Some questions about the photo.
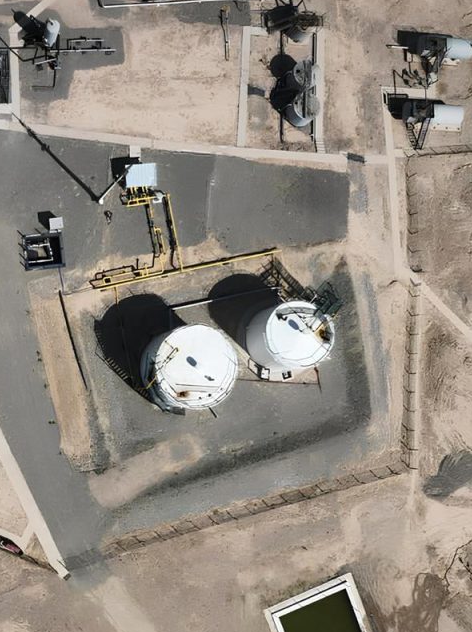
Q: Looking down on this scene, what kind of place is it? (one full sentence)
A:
This image shows an industrial area.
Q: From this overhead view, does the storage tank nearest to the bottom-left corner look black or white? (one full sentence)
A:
The storage tank nearest to the bottom-left corner looks white in the image.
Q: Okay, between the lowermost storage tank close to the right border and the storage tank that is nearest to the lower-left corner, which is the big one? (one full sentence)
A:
Of the two, the storage tank that is nearest to the lower-left corner is larger and the lowermost storage tank close to the right border is the smaller one.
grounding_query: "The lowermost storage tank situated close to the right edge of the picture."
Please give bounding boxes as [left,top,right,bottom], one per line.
[399,86,465,150]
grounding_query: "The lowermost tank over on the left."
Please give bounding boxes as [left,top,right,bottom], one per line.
[135,324,240,417]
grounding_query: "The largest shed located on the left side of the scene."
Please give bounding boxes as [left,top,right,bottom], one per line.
[122,163,157,191]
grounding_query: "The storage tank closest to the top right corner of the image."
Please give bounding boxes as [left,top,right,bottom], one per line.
[415,30,472,84]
